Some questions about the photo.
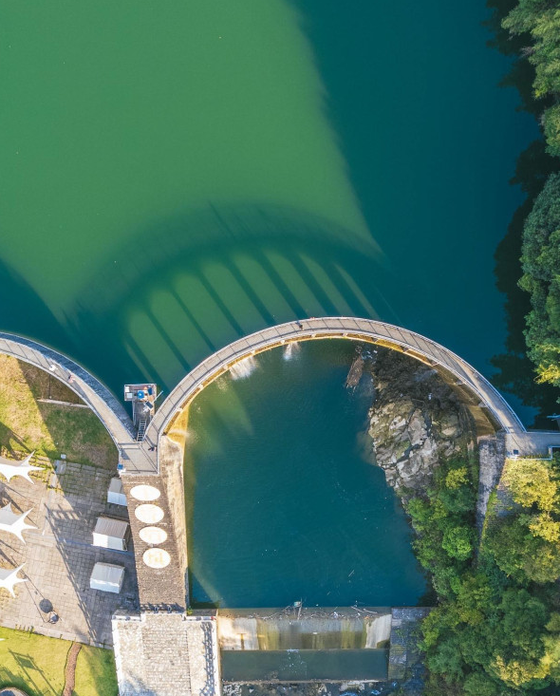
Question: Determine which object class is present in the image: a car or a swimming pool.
swimming pool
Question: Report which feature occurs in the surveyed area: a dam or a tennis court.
dam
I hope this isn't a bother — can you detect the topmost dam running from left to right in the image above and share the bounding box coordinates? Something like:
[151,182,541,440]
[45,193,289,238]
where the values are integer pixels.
[145,316,519,439]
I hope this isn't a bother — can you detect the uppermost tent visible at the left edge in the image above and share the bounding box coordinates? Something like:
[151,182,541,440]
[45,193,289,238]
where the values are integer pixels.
[0,448,47,485]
